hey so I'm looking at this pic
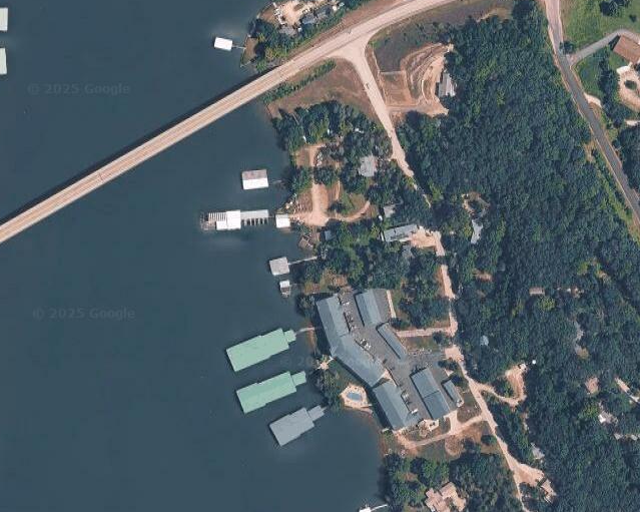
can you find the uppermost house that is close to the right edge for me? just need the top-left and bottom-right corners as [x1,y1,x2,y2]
[614,35,640,63]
